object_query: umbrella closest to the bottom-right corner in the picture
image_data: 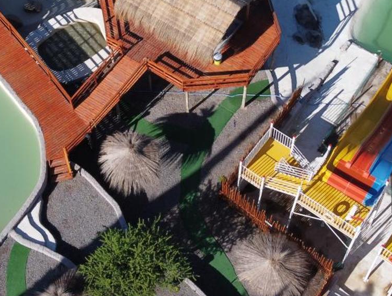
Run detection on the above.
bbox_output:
[228,233,309,296]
